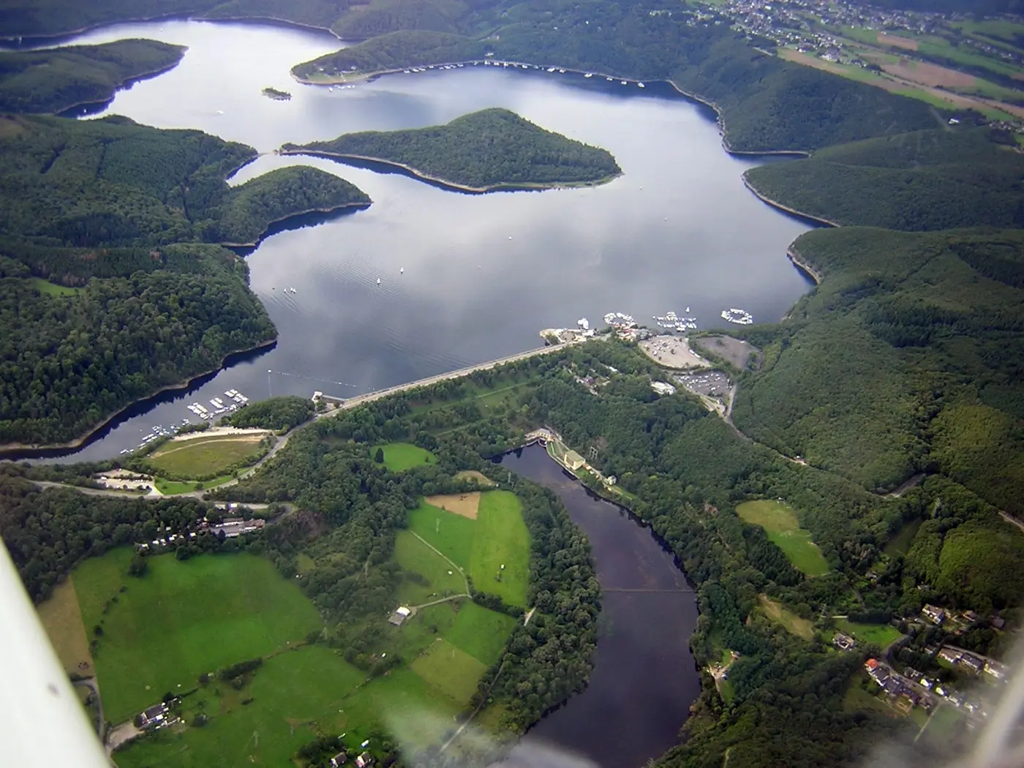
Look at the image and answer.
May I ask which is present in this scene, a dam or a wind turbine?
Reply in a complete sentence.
Of the two, only a dam appears.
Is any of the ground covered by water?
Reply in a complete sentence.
Yes, some water is visible.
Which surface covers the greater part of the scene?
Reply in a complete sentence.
The bulk of the photo consists of trees.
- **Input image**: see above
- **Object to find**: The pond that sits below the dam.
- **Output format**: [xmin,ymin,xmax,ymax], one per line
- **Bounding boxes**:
[497,441,700,768]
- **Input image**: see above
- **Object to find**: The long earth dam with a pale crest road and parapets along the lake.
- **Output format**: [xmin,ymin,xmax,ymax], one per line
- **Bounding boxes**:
[330,343,564,413]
